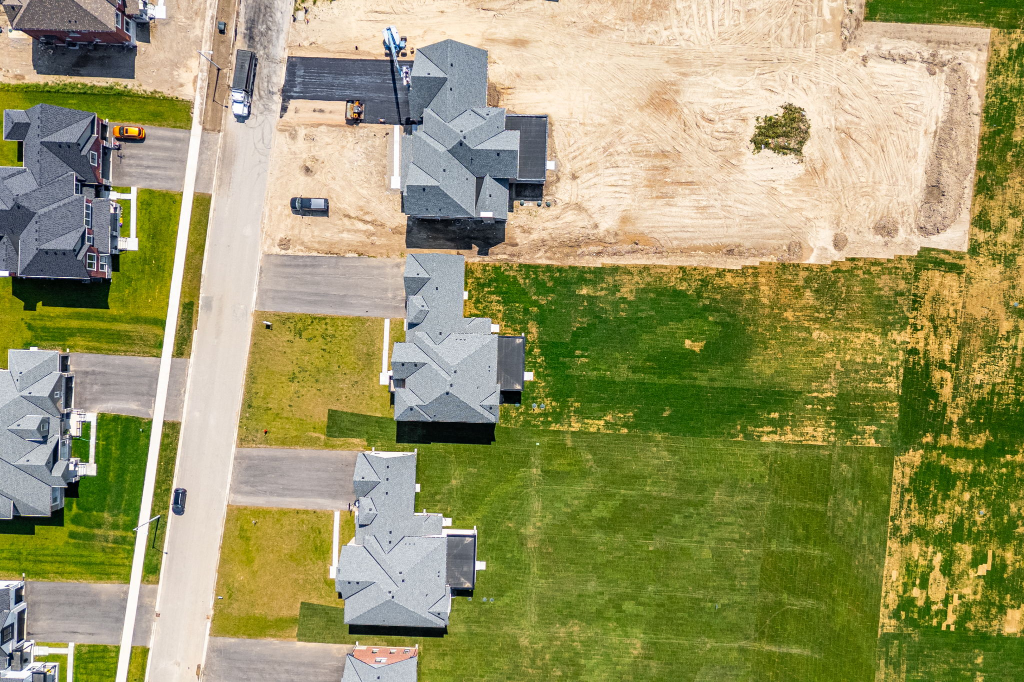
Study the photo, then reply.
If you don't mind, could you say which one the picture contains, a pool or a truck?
truck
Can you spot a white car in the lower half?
No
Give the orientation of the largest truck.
from top to bottom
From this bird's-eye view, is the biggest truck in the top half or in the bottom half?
top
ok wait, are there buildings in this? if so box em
[338,640,418,682]
[0,576,61,682]
[0,0,157,51]
[0,347,90,519]
[0,102,128,282]
[400,38,555,227]
[388,253,533,423]
[335,446,486,628]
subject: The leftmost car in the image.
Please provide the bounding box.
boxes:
[114,124,145,141]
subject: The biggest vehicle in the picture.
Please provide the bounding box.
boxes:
[228,50,260,120]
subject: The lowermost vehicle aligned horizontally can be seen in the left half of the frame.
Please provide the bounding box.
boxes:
[292,196,330,215]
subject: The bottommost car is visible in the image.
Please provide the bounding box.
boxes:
[170,487,189,516]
